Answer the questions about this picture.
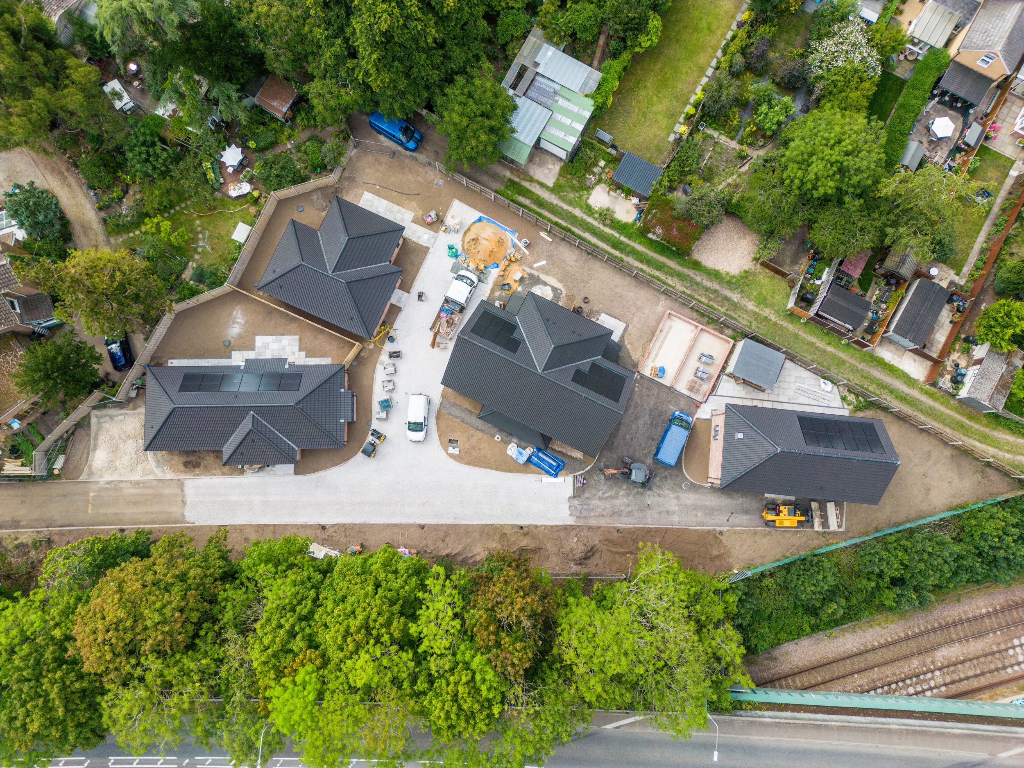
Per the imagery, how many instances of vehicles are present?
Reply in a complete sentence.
In total, there are 8 vehicles in the scene.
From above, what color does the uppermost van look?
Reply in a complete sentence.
The uppermost van looks blue in the image.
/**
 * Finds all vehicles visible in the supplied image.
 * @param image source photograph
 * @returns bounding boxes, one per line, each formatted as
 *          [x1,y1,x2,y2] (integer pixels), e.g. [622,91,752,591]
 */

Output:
[405,392,431,443]
[601,453,657,489]
[360,425,394,463]
[107,327,136,379]
[427,277,474,345]
[760,503,815,531]
[651,410,689,469]
[368,109,424,157]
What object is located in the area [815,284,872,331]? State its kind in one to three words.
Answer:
shed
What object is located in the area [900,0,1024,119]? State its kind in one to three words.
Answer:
house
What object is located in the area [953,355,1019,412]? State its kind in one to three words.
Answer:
shed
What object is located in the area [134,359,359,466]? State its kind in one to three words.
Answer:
house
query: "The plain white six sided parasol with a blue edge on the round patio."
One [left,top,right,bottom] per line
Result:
[926,117,954,141]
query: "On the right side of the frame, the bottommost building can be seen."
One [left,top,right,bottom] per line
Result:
[708,403,901,506]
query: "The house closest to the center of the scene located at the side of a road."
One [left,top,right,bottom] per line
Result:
[441,290,636,459]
